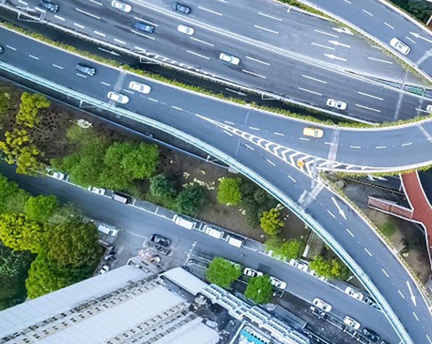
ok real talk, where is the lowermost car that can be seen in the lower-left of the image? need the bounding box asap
[93,259,114,277]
